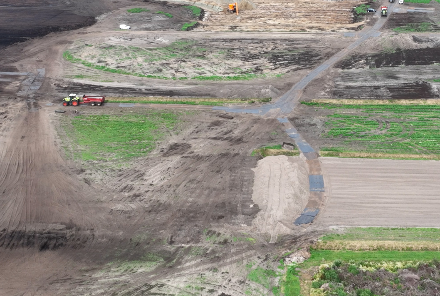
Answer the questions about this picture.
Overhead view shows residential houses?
No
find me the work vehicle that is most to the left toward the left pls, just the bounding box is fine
[62,94,81,106]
